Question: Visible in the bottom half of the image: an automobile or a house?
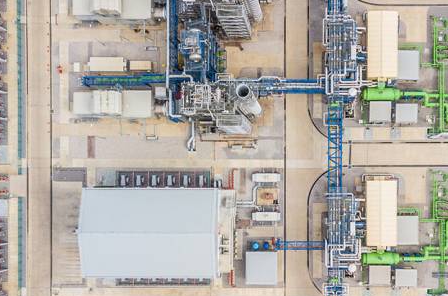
house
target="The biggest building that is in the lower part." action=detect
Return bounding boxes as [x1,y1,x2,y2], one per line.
[78,187,222,281]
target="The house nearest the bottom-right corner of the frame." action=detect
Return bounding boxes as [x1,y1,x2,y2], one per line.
[392,267,418,288]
